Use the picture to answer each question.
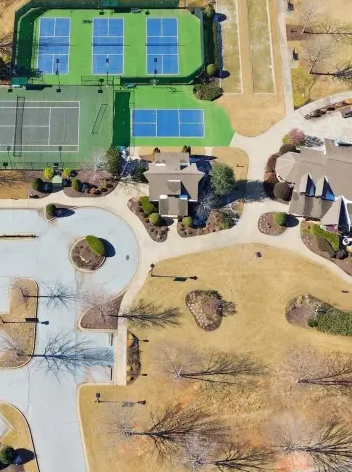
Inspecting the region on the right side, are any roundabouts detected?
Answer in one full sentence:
No, looking on the right side, there is no roundabout.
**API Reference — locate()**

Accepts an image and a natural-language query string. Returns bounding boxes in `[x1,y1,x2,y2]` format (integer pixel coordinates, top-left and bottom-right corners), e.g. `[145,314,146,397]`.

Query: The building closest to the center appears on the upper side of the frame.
[143,151,205,220]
